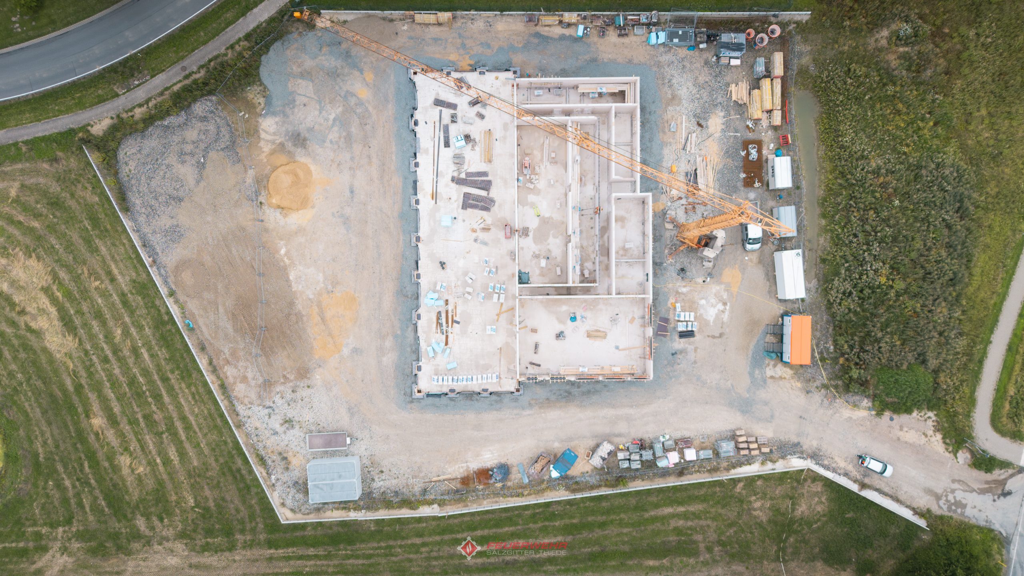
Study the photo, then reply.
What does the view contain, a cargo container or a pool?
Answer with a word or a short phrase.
cargo container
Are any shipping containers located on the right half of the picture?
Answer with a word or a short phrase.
Yes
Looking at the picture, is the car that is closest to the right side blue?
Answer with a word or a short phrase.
No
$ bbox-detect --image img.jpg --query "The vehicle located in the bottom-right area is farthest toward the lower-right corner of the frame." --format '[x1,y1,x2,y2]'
[856,452,892,477]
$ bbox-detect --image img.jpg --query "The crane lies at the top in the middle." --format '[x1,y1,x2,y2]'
[297,13,795,263]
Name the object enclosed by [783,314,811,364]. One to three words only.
shipping container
